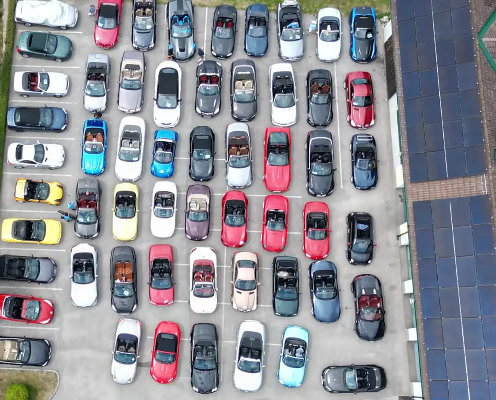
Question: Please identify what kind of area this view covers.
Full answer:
The area seen from above is a parking lot.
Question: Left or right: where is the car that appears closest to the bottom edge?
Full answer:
The car that appears closest to the bottom edge appears in the right half of the scene.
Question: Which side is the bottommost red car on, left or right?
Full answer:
It is on the left.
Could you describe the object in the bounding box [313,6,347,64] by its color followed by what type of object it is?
white car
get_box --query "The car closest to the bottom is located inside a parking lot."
[321,361,387,397]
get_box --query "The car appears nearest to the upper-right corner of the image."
[348,6,381,64]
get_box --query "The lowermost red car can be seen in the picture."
[149,320,183,384]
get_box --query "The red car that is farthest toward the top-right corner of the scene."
[344,71,378,131]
